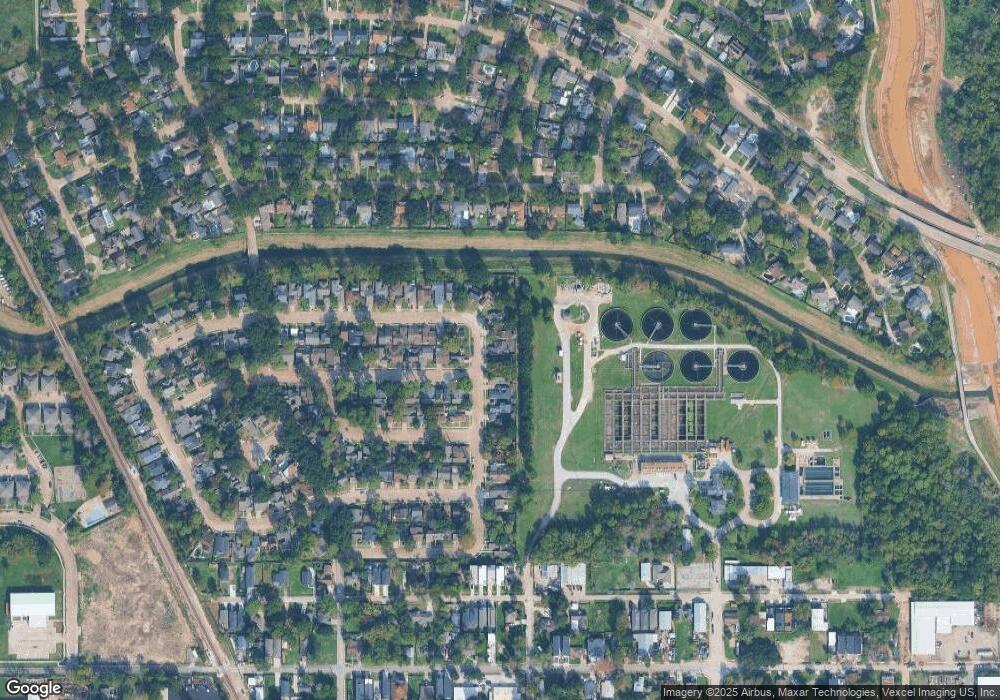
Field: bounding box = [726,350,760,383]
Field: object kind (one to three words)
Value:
storage tank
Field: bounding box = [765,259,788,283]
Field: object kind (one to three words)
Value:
house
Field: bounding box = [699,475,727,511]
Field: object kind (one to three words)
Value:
building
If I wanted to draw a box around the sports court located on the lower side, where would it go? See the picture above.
[54,466,86,503]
